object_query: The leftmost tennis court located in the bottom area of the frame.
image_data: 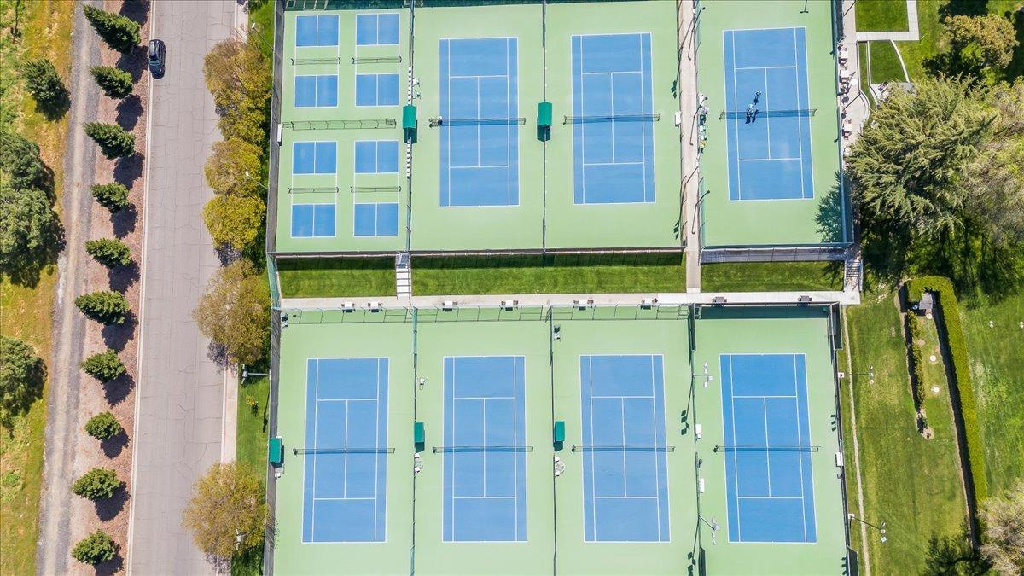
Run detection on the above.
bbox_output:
[273,309,415,576]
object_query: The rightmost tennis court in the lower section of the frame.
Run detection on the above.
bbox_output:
[691,304,847,576]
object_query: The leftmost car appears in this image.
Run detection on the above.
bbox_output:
[146,41,165,76]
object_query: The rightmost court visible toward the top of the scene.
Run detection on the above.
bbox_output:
[691,0,847,250]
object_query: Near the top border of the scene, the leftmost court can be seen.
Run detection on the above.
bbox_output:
[280,0,348,125]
